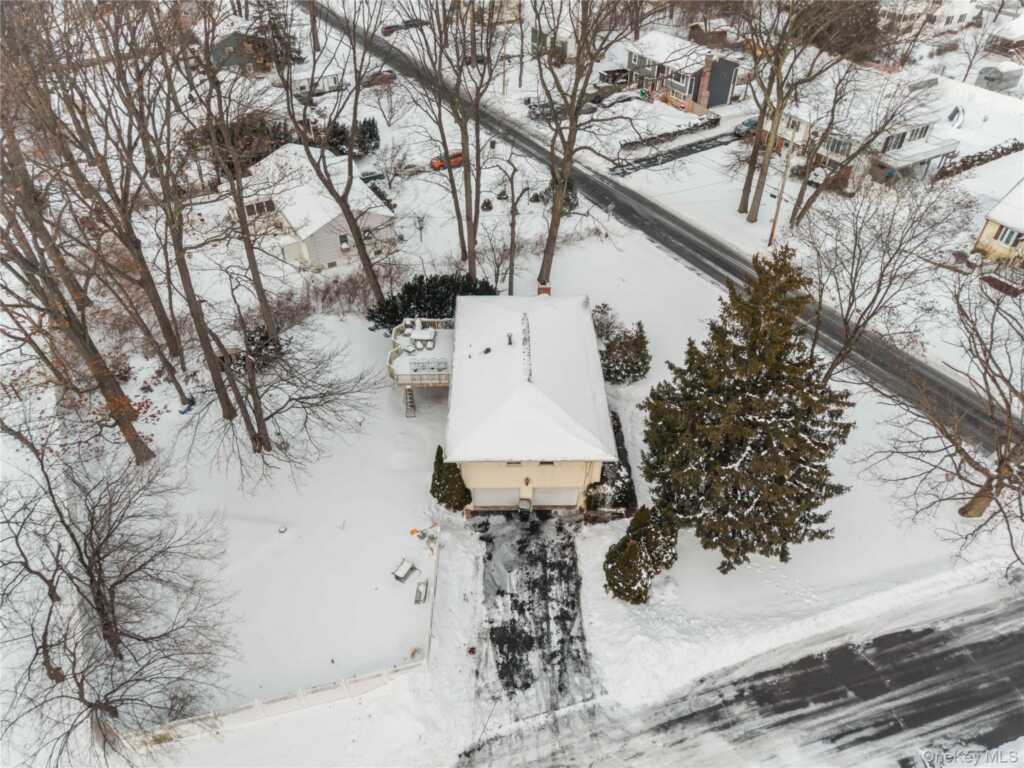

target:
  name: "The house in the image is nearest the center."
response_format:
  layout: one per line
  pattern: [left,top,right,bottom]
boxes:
[444,278,619,521]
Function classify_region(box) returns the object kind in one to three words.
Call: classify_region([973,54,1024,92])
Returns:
shed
